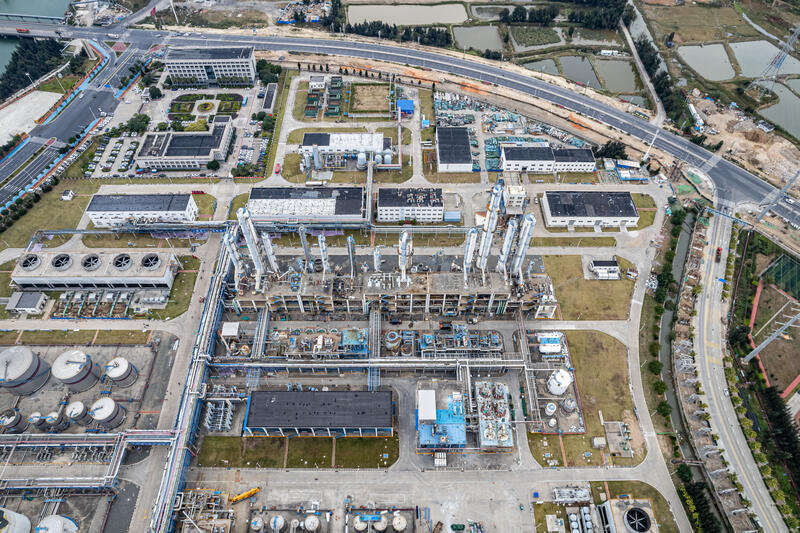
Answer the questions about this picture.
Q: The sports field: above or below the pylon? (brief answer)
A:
below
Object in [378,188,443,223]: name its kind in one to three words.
building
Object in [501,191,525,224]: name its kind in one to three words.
building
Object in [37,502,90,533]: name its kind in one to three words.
storage tank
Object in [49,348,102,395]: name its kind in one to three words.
storage tank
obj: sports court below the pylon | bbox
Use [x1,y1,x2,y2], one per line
[759,252,800,298]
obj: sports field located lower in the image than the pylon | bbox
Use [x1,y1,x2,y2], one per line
[748,278,800,399]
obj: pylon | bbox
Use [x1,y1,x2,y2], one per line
[745,23,800,99]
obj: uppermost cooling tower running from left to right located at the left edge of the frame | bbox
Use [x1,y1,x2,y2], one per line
[10,249,186,292]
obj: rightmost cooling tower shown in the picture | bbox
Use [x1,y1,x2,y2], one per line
[592,499,661,533]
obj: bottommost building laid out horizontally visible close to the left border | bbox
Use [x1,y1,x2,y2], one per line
[5,292,52,314]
